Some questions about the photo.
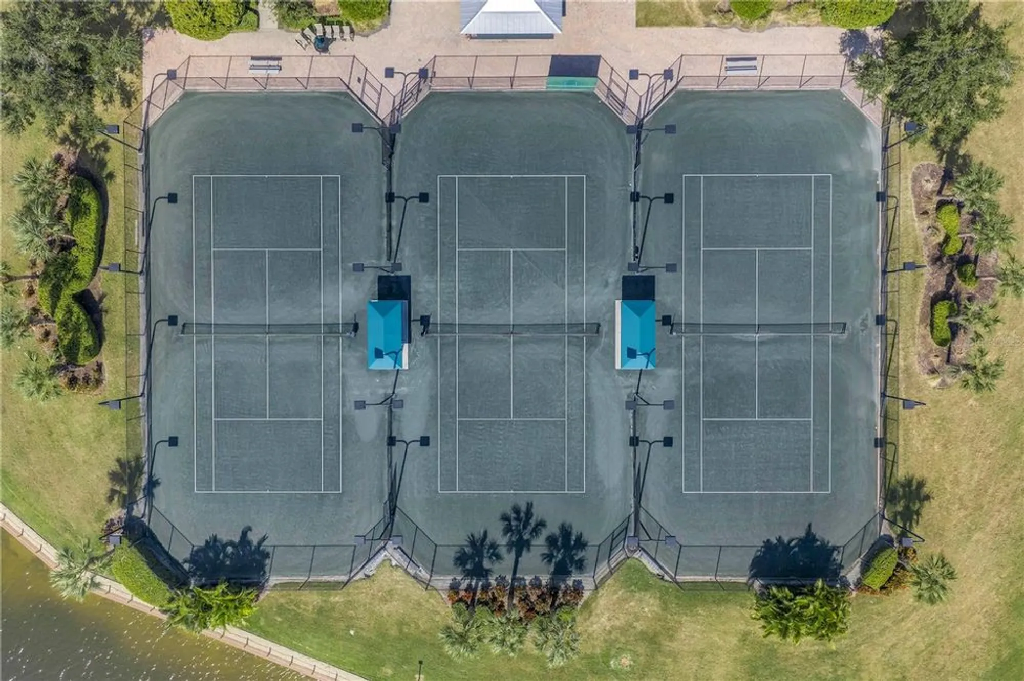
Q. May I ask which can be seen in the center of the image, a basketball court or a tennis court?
tennis court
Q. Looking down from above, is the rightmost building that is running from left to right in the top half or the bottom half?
top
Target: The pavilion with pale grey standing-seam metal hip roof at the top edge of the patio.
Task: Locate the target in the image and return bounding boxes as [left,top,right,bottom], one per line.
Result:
[461,0,562,41]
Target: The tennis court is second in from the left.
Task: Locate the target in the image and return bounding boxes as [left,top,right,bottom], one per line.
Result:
[389,89,634,579]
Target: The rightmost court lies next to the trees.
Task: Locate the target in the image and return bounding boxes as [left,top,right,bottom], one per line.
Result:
[634,88,882,579]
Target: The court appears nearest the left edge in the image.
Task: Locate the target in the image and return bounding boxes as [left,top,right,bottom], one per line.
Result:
[145,89,390,579]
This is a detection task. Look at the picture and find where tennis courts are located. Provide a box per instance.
[145,89,390,579]
[634,88,882,579]
[389,89,634,579]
